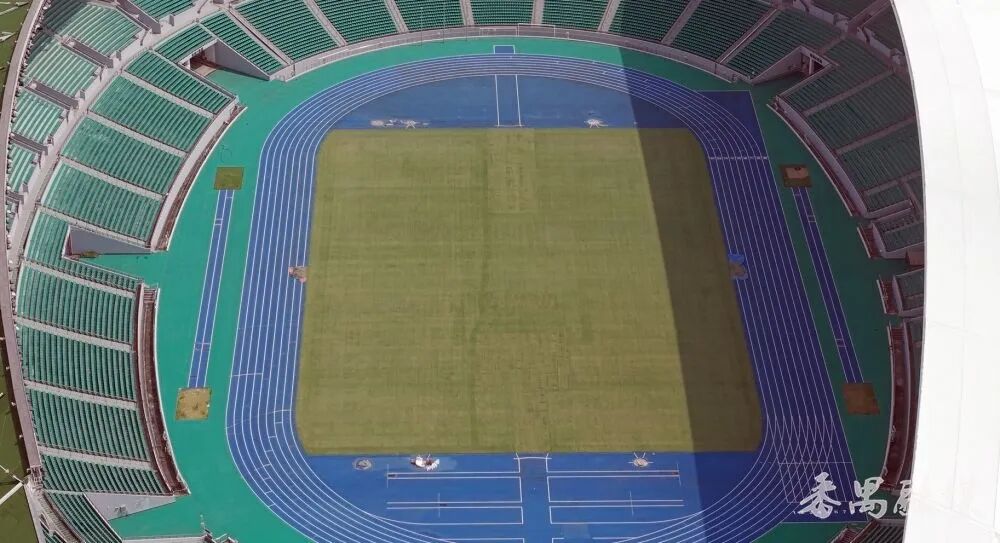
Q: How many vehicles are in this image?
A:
zero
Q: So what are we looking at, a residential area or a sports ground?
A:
sports ground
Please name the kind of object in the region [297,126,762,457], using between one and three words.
sports field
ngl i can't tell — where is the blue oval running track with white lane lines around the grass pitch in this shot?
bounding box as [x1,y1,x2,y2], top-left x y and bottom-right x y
[226,54,869,543]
